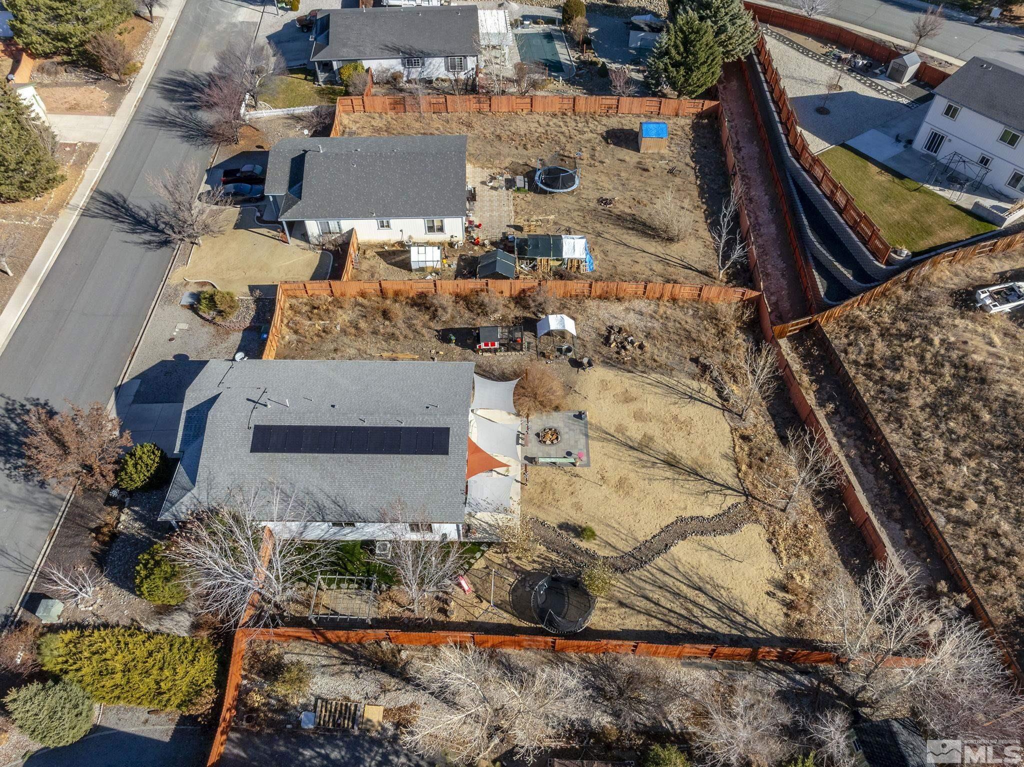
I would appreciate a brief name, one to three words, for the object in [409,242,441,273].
greenhouse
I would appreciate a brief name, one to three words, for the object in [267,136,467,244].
house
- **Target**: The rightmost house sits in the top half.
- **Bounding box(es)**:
[913,57,1024,195]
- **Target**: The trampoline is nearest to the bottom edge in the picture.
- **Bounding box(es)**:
[531,559,595,638]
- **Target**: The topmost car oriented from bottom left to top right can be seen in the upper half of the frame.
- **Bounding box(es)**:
[296,9,332,31]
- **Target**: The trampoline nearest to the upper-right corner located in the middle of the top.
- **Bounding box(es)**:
[535,152,581,200]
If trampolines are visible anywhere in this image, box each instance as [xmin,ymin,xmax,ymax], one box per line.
[531,559,595,638]
[535,152,581,200]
